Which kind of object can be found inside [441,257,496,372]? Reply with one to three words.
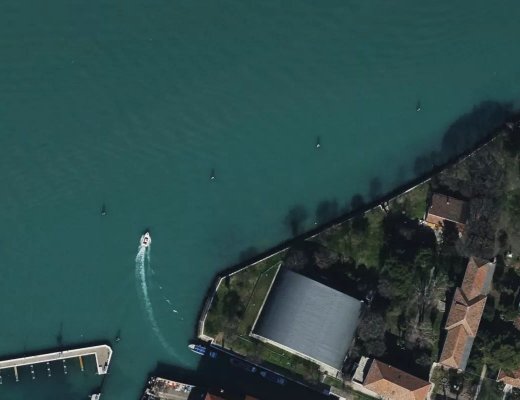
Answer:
building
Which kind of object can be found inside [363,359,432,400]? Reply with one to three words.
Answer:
house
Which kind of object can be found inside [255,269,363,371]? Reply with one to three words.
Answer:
building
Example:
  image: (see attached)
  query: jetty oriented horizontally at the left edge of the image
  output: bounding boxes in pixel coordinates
[0,344,112,375]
